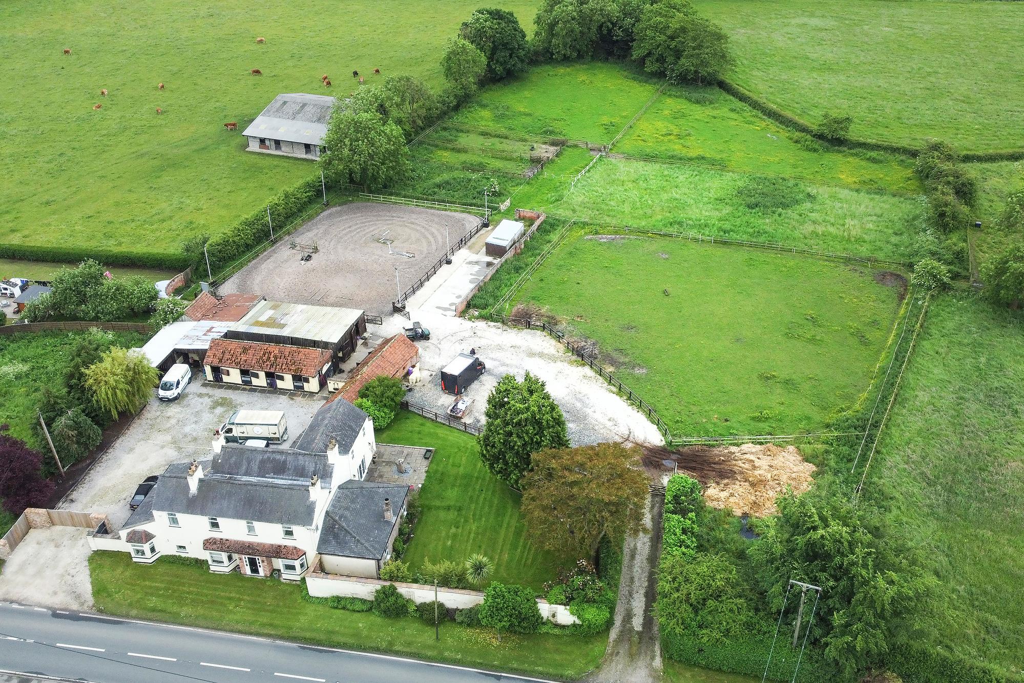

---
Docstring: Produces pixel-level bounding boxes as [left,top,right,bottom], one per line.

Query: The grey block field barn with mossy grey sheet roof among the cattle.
[240,85,355,163]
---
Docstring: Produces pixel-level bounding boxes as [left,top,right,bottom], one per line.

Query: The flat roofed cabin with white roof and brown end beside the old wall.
[485,218,524,257]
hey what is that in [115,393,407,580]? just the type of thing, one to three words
house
